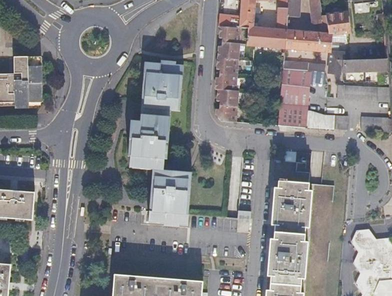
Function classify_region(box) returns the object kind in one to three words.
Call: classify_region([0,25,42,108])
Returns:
building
